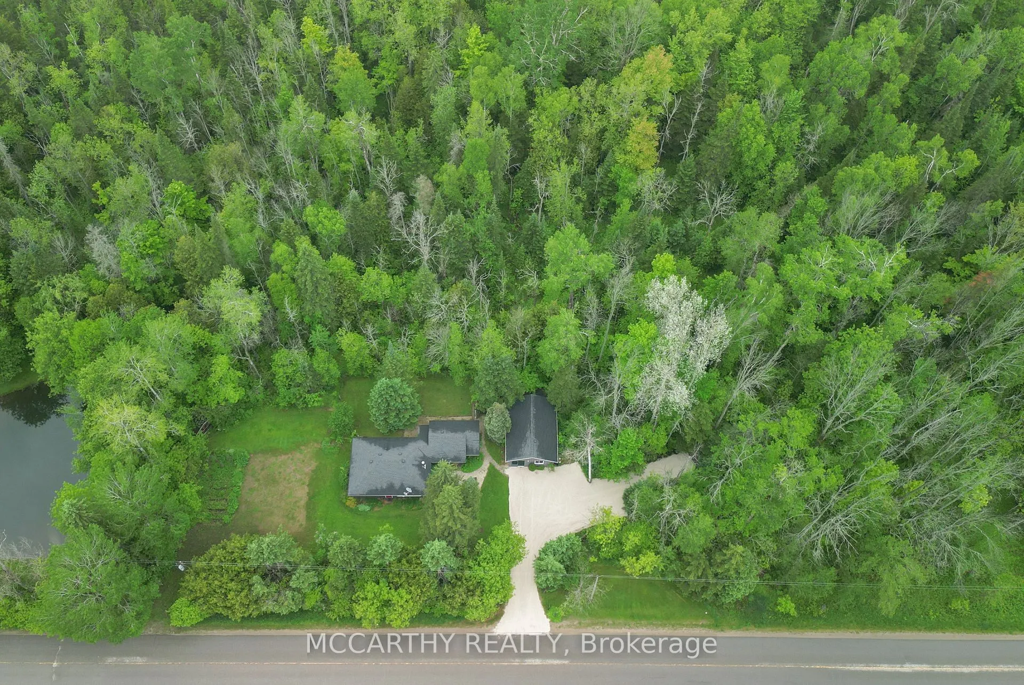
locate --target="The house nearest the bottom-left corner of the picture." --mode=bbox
[344,420,480,500]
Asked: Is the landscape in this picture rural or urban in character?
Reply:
rural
